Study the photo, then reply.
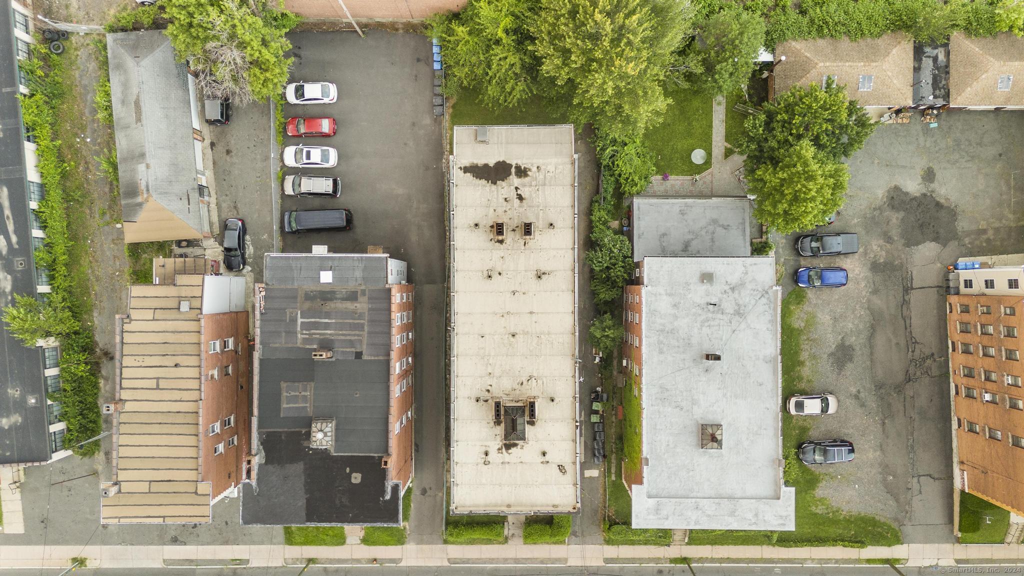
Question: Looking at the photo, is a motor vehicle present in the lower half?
Yes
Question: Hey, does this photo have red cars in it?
Yes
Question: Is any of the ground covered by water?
No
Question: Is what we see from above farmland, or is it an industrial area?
industrial area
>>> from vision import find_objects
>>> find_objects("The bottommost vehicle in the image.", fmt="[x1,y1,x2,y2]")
[798,438,857,467]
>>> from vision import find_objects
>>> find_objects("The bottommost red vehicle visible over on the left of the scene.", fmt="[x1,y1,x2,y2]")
[286,114,336,139]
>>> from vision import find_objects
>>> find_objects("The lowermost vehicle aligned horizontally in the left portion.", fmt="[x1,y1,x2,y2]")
[283,207,352,234]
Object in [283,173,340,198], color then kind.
white car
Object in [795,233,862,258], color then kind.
gray truck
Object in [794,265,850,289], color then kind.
blue car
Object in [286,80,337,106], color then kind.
white car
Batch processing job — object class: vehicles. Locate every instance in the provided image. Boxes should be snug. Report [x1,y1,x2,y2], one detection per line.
[286,80,337,106]
[787,392,839,417]
[286,114,336,139]
[283,207,352,234]
[798,438,857,467]
[221,218,249,271]
[283,143,337,168]
[204,82,230,124]
[795,233,862,258]
[283,173,340,198]
[794,265,850,289]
